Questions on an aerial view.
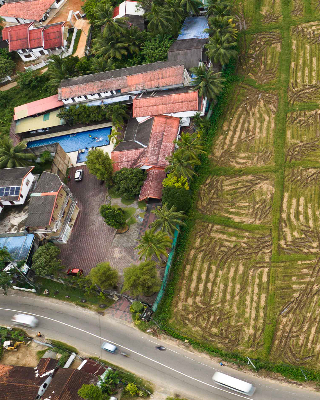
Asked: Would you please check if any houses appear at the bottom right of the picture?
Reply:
No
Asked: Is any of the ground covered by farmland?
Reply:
Yes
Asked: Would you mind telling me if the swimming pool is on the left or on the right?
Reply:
left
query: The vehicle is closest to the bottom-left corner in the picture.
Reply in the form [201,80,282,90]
[3,339,35,353]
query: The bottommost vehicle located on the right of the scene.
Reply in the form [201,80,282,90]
[208,373,257,399]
